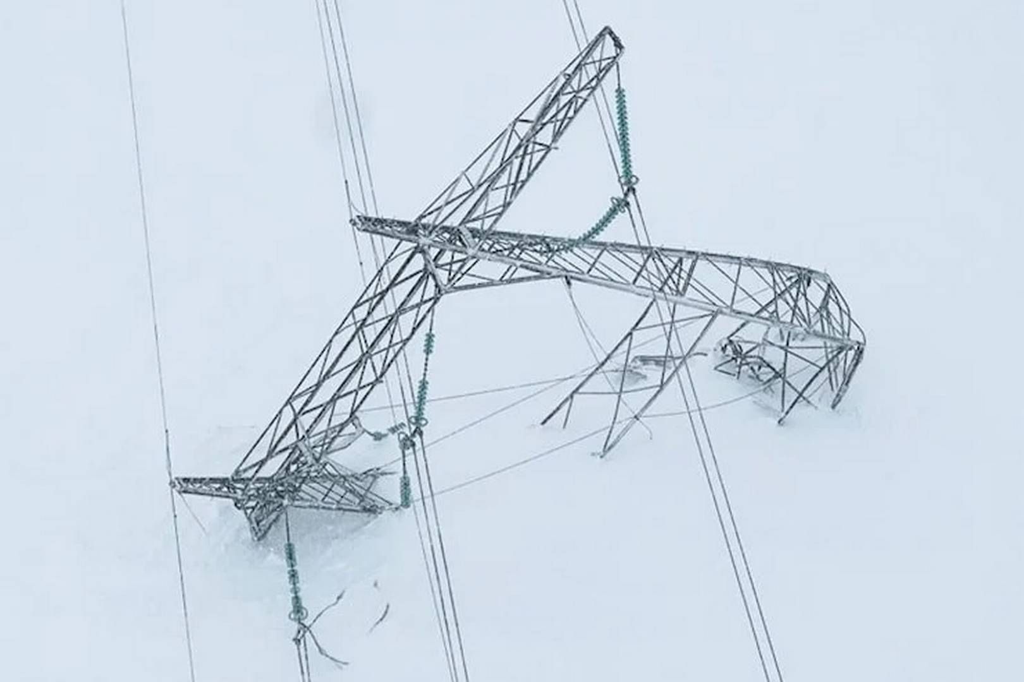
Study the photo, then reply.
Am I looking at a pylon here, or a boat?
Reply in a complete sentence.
Looking from above, you can make out a pylon.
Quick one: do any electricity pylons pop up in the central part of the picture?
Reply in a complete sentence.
Yes, looking in the central part of the picture, one can make out an electricity pylon.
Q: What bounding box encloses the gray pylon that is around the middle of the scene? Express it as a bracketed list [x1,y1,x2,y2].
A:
[176,26,866,540]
